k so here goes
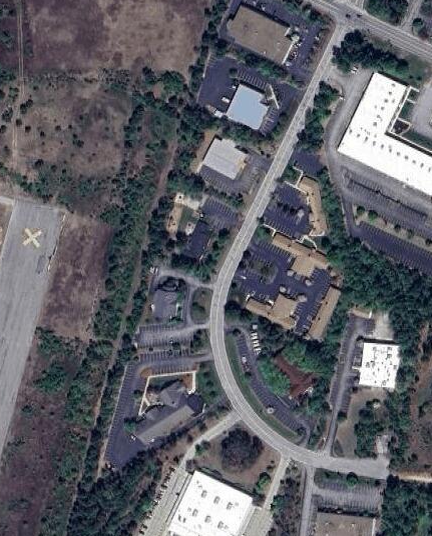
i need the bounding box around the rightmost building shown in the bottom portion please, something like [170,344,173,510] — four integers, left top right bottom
[359,343,400,389]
